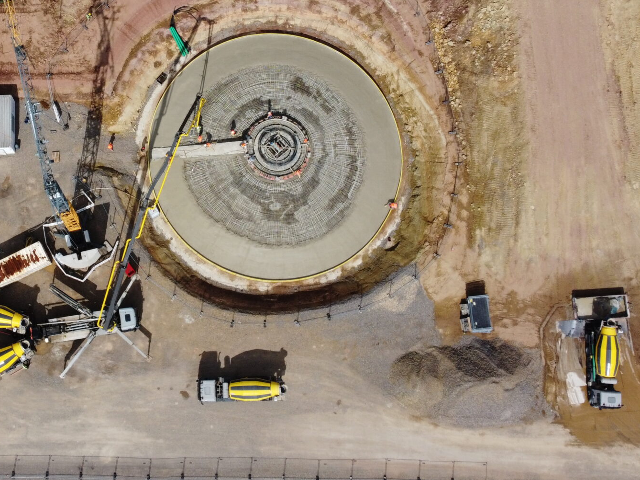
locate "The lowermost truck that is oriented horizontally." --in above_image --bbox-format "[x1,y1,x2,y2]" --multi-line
[195,373,287,406]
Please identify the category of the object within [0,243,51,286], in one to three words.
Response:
shipping container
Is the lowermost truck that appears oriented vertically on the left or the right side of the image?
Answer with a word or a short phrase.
right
